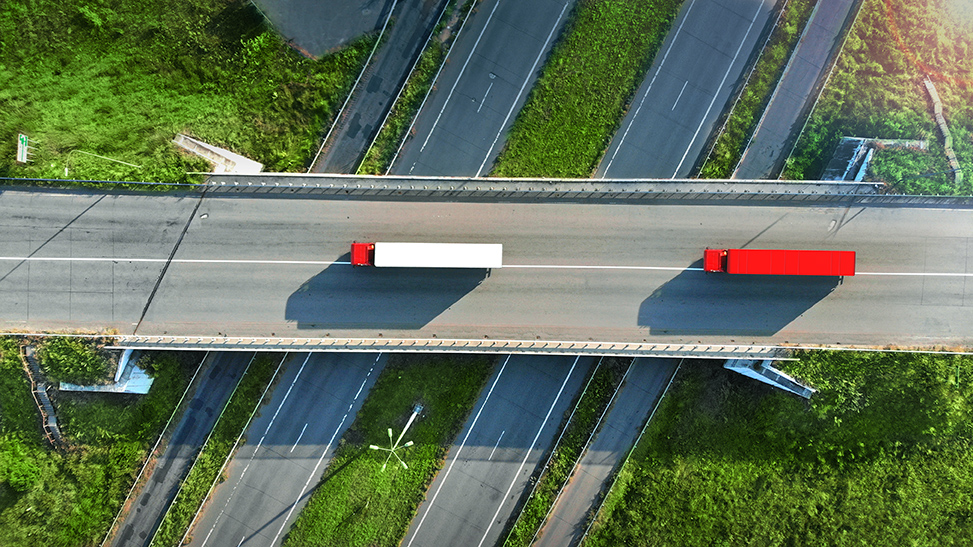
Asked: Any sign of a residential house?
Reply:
No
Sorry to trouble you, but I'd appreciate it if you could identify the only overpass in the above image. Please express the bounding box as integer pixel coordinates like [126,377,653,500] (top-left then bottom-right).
[103,174,882,358]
